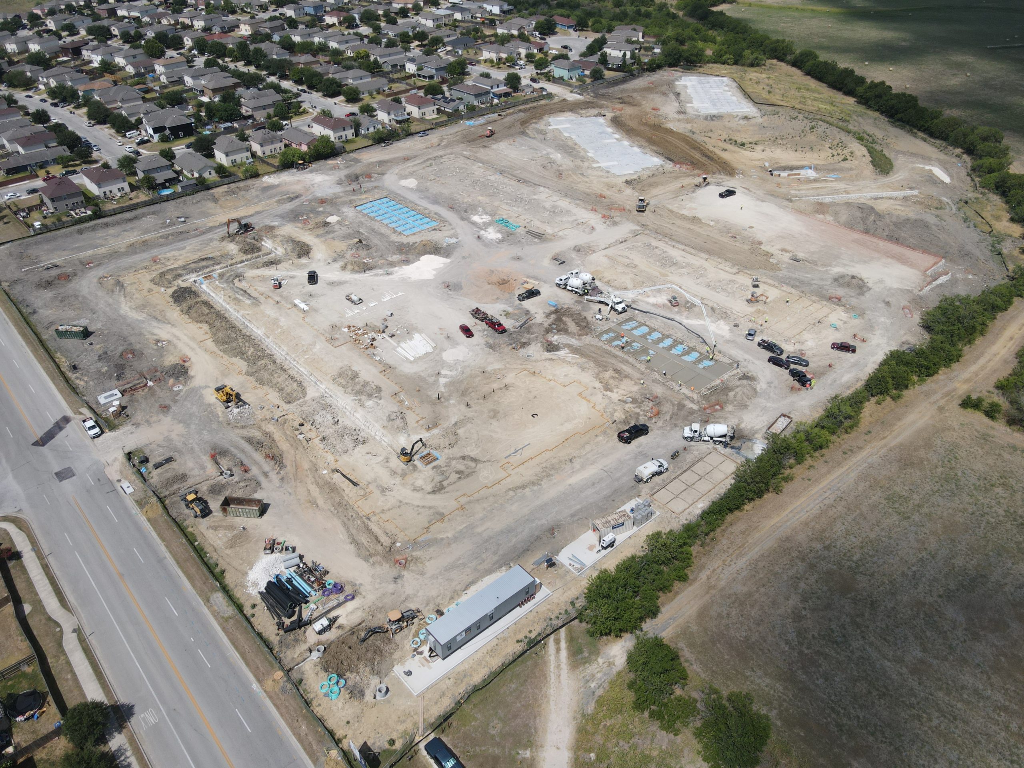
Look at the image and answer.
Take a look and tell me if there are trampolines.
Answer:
Yes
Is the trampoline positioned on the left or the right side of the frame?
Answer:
left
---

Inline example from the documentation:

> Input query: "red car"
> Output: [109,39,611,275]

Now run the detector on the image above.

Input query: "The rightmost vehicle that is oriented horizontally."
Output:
[829,342,858,354]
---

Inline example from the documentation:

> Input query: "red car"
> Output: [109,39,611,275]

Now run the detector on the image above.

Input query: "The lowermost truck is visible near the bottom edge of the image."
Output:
[422,731,462,768]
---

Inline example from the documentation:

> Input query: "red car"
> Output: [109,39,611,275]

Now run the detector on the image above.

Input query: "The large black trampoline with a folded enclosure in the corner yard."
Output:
[5,684,43,718]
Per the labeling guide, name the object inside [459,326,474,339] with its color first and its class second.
red vehicle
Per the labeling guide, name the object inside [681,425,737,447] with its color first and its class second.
white truck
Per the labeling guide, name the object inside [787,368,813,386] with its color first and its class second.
black vehicle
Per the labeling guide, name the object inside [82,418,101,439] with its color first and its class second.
white vehicle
